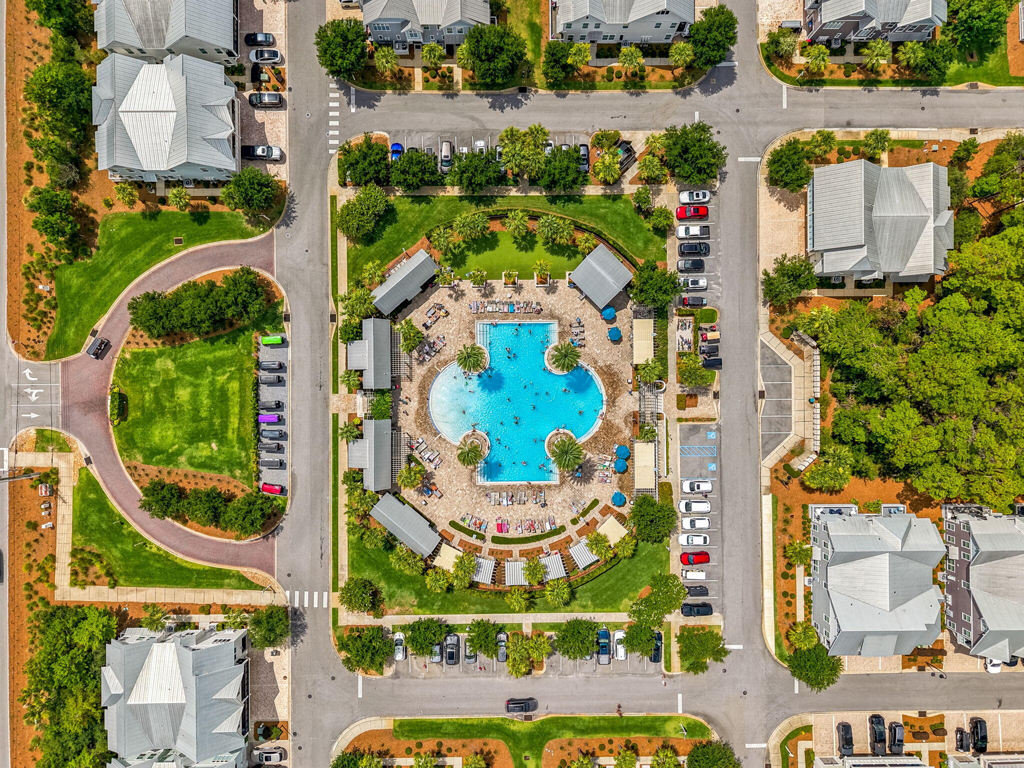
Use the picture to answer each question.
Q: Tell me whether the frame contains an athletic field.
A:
No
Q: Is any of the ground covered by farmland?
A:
No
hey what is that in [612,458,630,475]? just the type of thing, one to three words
umbrella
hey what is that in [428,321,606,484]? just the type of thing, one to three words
swimming pool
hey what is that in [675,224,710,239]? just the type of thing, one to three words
vehicle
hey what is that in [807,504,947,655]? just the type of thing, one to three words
house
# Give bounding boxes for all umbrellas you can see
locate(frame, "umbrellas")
[600,304,617,321]
[612,458,630,475]
[615,444,632,460]
[611,491,628,508]
[606,325,624,343]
